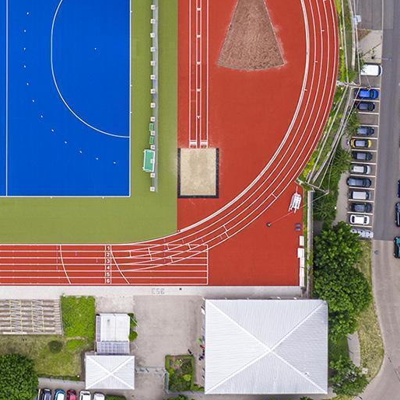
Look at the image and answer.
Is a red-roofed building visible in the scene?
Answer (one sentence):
No, the picture doesn't show any red-roofed building.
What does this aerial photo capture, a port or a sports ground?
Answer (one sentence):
It's a sports ground.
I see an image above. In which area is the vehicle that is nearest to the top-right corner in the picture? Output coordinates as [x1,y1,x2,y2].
[357,64,384,77]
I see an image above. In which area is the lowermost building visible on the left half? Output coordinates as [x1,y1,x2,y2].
[84,354,136,391]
